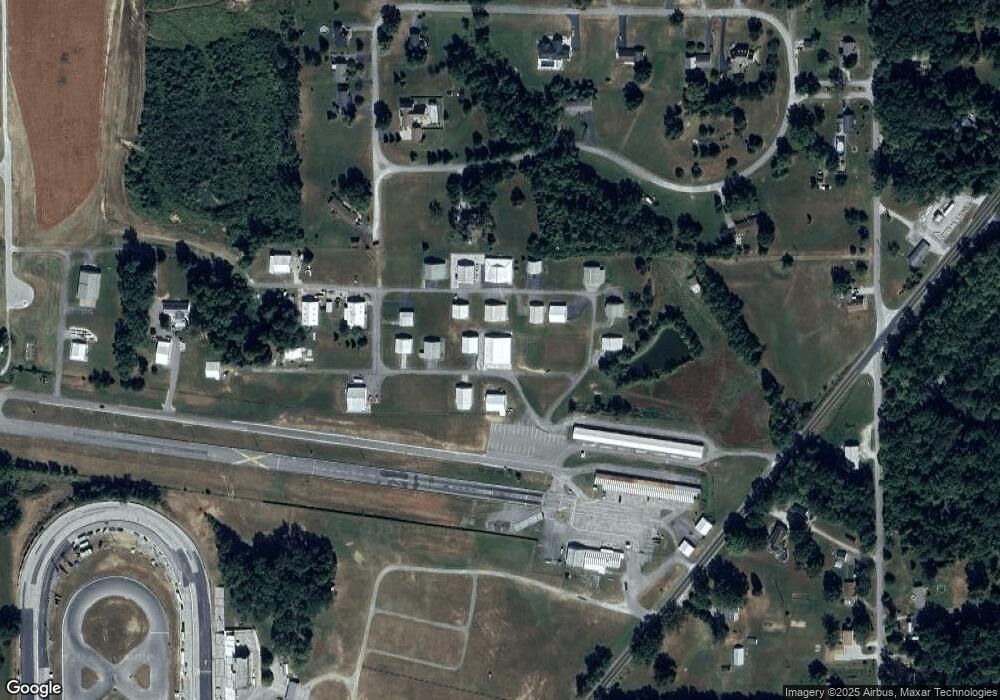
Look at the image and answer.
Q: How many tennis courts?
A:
0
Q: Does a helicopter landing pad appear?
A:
No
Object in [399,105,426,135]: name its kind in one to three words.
house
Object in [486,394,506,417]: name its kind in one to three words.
hangar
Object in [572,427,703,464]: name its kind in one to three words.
shed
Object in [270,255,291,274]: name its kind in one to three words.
barn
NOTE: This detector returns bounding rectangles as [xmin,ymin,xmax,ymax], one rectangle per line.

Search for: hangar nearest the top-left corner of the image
[78,269,102,308]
